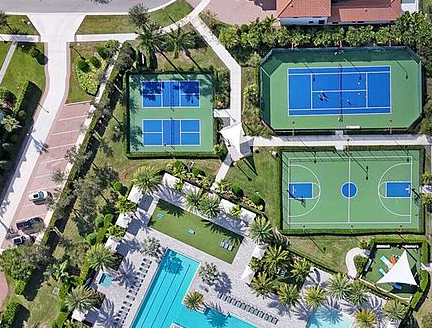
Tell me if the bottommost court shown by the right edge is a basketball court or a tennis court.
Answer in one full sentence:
I'd identify the bottommost court shown by the right edge as a basketball court.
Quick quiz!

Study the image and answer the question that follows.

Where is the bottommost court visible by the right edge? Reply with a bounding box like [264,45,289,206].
[281,151,420,231]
